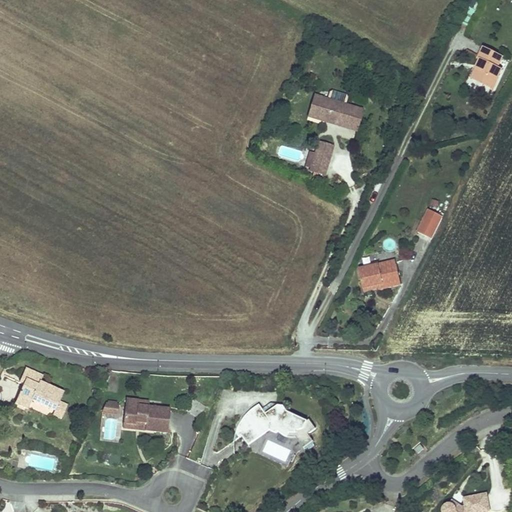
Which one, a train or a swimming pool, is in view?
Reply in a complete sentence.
The image shows a swimming pool.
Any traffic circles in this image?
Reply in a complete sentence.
Yes, a traffic circle can be made out from above.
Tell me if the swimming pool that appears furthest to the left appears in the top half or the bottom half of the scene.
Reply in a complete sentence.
It is in the bottom half that the swimming pool that appears furthest to the left appears.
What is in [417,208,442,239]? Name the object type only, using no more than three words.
barn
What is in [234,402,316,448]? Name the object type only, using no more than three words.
house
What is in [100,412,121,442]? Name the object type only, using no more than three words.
swimming pool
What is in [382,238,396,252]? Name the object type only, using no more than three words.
swimming pool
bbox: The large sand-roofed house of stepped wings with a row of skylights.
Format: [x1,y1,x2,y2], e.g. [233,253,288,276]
[16,366,68,418]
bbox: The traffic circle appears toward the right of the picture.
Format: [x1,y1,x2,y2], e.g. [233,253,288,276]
[368,360,428,422]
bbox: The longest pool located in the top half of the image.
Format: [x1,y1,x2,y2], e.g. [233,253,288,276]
[278,146,308,166]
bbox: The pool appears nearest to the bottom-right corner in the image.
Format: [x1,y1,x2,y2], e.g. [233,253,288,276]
[262,440,292,462]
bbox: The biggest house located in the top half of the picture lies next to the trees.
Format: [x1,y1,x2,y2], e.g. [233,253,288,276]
[308,89,364,133]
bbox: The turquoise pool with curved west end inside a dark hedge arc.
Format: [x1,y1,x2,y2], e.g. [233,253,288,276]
[18,450,59,474]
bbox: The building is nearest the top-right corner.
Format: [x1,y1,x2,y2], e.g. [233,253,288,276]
[471,45,504,92]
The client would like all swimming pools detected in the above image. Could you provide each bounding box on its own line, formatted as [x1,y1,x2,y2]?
[18,450,59,474]
[100,412,121,442]
[262,440,292,462]
[278,146,308,166]
[382,238,396,252]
